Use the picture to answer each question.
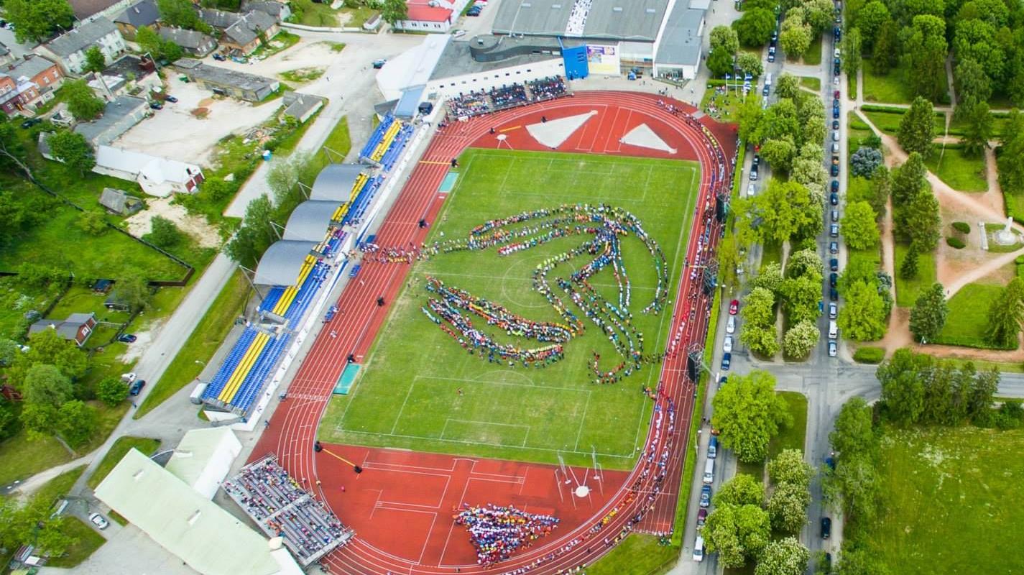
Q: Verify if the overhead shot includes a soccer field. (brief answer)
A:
Yes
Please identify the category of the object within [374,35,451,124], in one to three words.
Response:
building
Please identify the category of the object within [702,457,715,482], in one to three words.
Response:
vehicle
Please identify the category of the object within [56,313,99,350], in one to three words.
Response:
house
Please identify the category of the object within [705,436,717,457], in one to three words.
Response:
vehicle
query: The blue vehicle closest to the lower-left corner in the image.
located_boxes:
[129,380,149,397]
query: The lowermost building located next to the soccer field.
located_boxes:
[93,425,307,575]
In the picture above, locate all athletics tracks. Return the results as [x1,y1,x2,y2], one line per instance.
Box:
[251,89,738,575]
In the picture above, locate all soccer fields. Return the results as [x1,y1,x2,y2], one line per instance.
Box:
[316,150,703,471]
